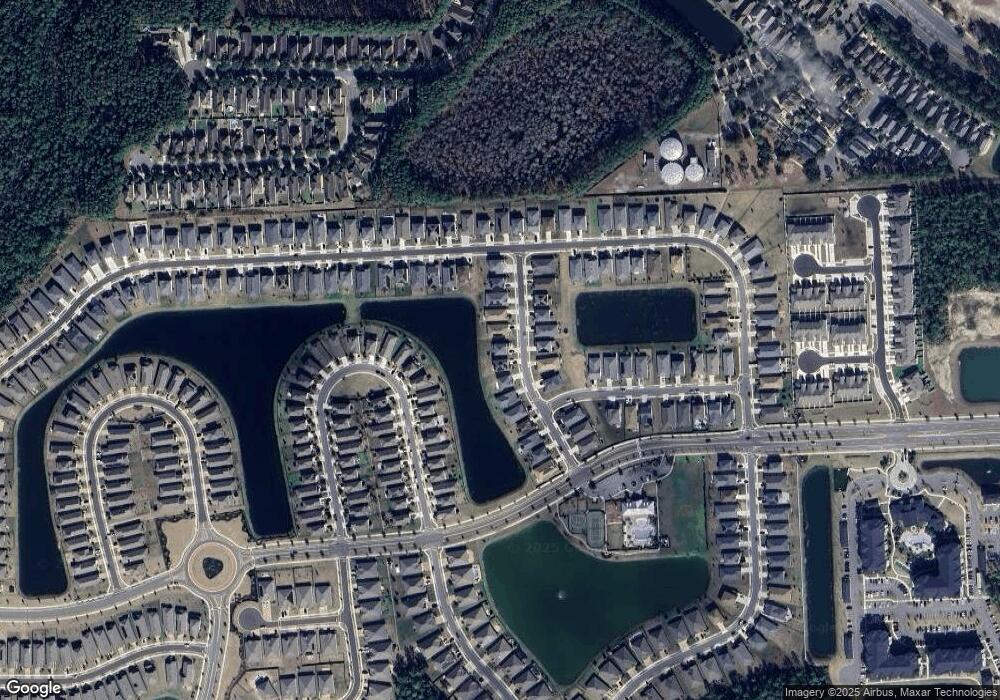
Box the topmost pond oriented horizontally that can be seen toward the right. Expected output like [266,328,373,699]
[576,287,697,347]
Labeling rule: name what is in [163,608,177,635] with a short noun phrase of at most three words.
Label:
house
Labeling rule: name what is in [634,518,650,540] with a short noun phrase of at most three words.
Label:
swimming pool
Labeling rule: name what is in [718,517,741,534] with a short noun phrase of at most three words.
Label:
house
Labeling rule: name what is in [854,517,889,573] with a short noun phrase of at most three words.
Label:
building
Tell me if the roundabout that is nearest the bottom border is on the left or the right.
left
